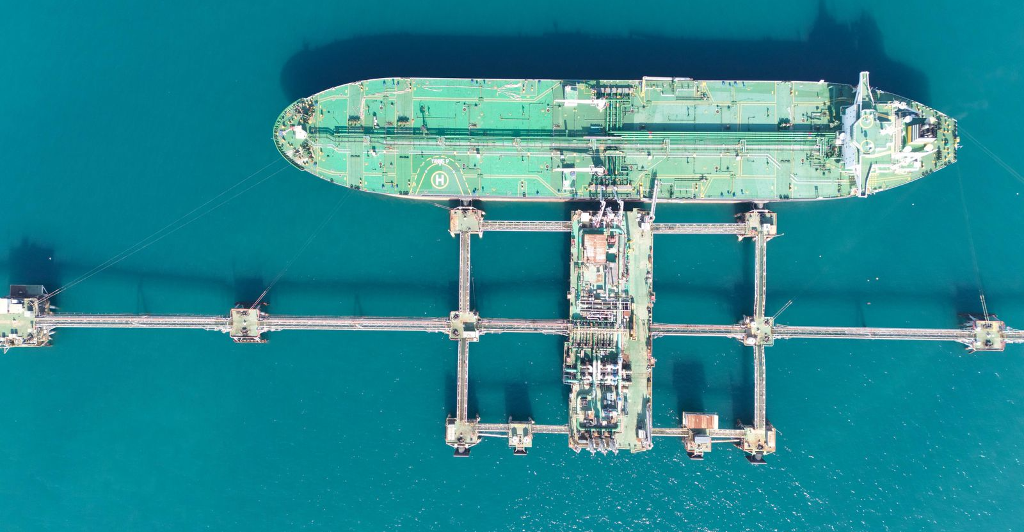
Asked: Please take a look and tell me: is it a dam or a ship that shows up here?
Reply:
ship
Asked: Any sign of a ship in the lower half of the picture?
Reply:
No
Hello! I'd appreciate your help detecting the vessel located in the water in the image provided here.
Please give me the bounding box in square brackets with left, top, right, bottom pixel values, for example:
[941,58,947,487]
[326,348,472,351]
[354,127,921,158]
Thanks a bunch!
[272,71,962,202]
